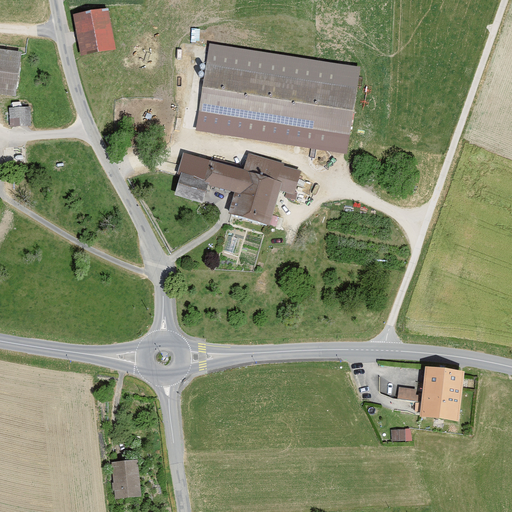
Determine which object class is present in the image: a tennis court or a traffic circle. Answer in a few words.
traffic circle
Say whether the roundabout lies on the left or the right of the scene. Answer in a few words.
left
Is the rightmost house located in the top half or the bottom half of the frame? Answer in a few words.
bottom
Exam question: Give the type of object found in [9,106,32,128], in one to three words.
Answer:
shed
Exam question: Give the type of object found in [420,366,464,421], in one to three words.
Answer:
house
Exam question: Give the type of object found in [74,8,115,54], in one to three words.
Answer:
barn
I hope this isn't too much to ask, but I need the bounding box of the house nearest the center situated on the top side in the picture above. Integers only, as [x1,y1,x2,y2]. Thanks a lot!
[175,153,300,227]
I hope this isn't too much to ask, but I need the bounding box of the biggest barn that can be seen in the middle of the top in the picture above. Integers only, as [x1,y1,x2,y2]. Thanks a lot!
[196,44,362,154]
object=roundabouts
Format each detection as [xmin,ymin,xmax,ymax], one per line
[134,329,192,387]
